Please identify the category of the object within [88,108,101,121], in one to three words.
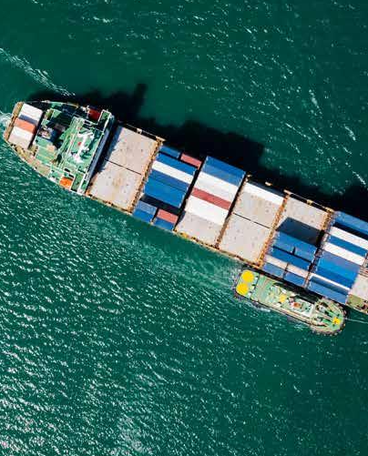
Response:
boat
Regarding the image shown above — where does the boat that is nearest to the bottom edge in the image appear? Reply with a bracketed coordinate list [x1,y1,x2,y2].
[234,267,348,336]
